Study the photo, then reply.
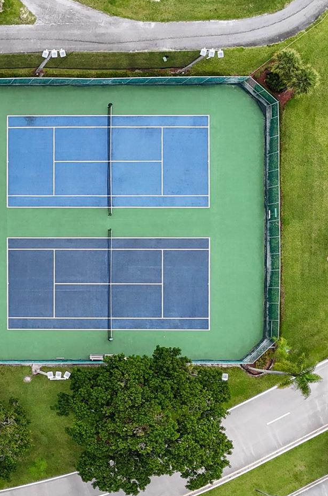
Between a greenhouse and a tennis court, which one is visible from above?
tennis court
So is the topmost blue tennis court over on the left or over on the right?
left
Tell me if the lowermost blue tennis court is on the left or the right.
left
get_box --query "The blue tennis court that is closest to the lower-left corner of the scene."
[7,238,210,330]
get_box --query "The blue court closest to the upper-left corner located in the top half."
[7,116,209,208]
